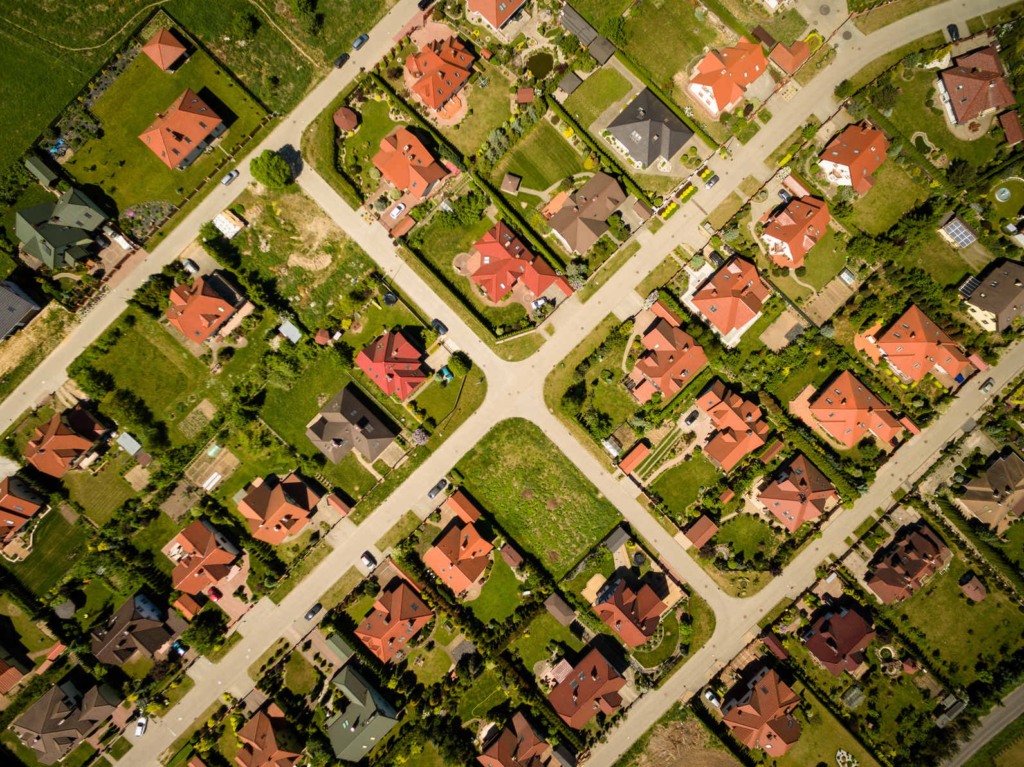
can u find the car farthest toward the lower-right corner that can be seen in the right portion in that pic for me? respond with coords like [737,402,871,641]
[818,587,836,610]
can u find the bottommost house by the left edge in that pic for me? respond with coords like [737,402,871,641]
[13,679,123,766]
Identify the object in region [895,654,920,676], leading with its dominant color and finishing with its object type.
red gazebo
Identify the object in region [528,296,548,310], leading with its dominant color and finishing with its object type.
white car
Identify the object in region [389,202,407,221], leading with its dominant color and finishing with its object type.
white car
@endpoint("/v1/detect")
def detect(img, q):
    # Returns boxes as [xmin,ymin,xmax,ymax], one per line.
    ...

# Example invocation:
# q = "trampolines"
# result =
[382,292,397,306]
[633,553,648,566]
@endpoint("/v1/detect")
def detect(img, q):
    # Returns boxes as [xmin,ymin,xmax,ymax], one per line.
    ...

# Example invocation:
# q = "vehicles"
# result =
[172,638,190,658]
[415,0,437,14]
[301,600,326,624]
[134,713,151,740]
[332,52,352,71]
[93,233,114,253]
[773,185,794,207]
[389,202,407,221]
[219,168,242,187]
[439,363,455,383]
[181,256,202,277]
[681,407,702,429]
[429,316,451,337]
[360,551,378,570]
[973,378,996,399]
[101,224,118,241]
[701,172,723,193]
[528,296,548,310]
[818,587,836,610]
[706,247,727,270]
[888,436,902,451]
[945,22,960,43]
[426,477,449,501]
[948,373,968,386]
[350,32,371,53]
[702,687,723,709]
